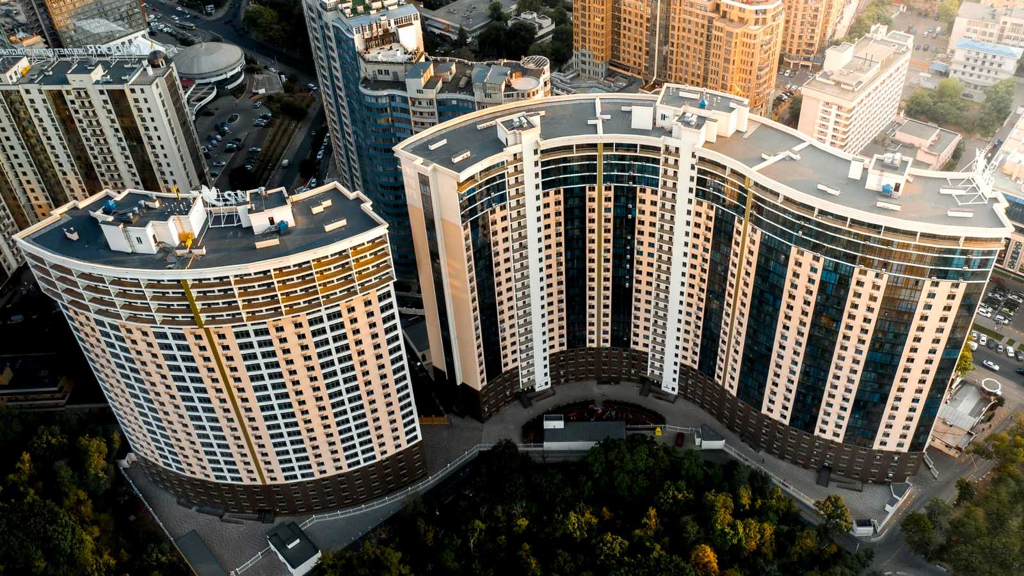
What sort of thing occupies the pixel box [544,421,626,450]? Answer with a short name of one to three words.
building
